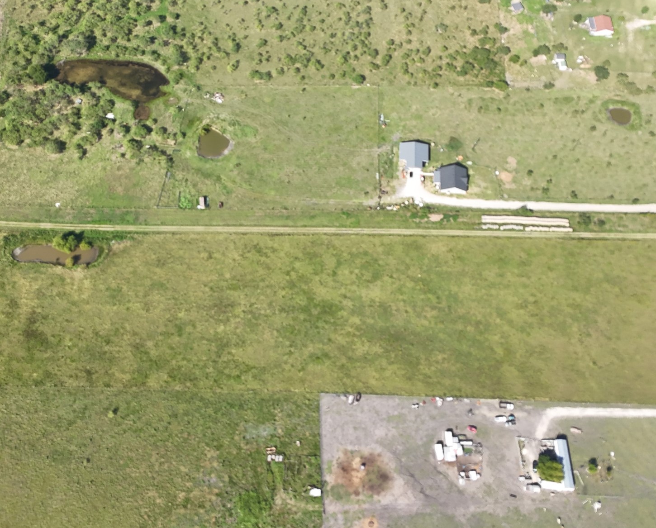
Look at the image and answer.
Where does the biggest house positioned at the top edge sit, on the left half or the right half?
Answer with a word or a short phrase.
right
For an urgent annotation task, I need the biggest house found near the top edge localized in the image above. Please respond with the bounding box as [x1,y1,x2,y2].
[583,14,614,39]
